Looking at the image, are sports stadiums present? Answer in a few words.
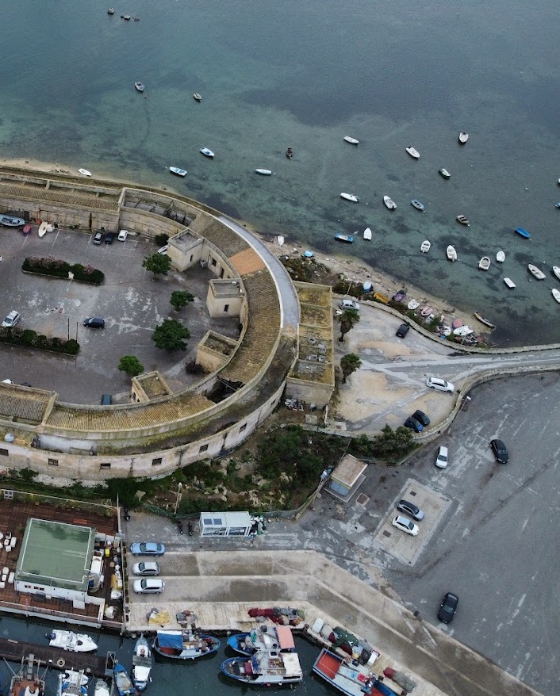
No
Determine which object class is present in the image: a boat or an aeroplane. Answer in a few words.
boat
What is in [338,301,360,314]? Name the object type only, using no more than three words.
vehicle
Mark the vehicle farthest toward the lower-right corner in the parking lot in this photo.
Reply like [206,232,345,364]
[437,591,459,624]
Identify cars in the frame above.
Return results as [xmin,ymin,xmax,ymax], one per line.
[100,389,113,407]
[83,317,105,330]
[434,444,451,470]
[391,514,420,539]
[104,231,116,244]
[338,301,360,314]
[407,409,434,429]
[437,591,459,624]
[425,376,454,395]
[118,231,129,243]
[394,323,409,339]
[395,497,426,522]
[131,540,165,557]
[3,310,20,326]
[132,560,161,578]
[93,231,104,245]
[400,417,427,437]
[488,439,508,464]
[133,577,165,595]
